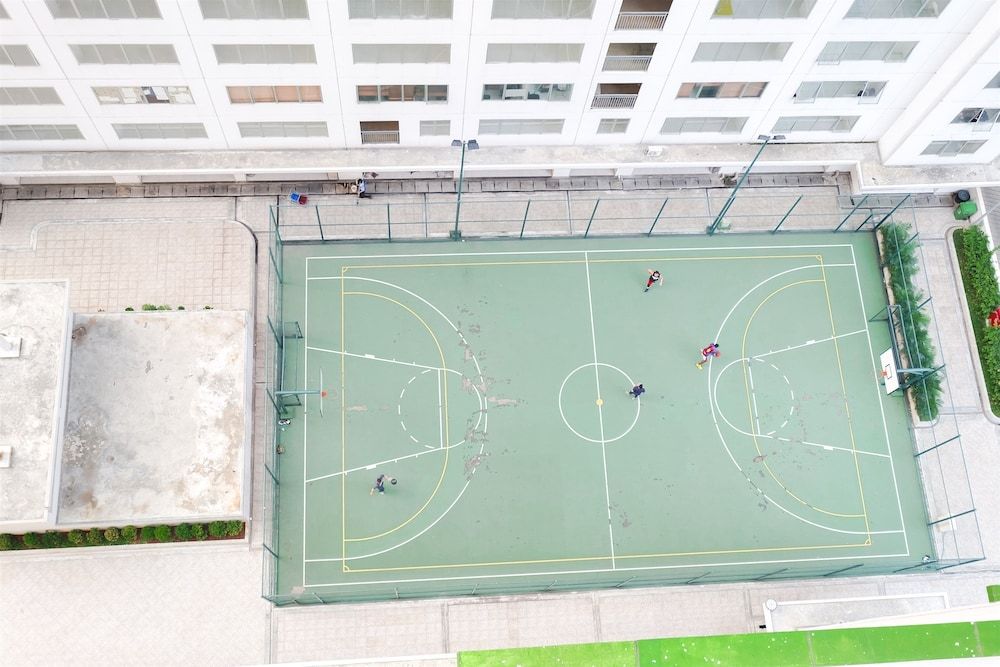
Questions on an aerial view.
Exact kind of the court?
basketball court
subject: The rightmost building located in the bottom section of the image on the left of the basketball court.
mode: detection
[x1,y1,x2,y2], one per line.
[58,309,256,527]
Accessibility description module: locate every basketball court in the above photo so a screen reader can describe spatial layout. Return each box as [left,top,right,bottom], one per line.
[277,233,938,606]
